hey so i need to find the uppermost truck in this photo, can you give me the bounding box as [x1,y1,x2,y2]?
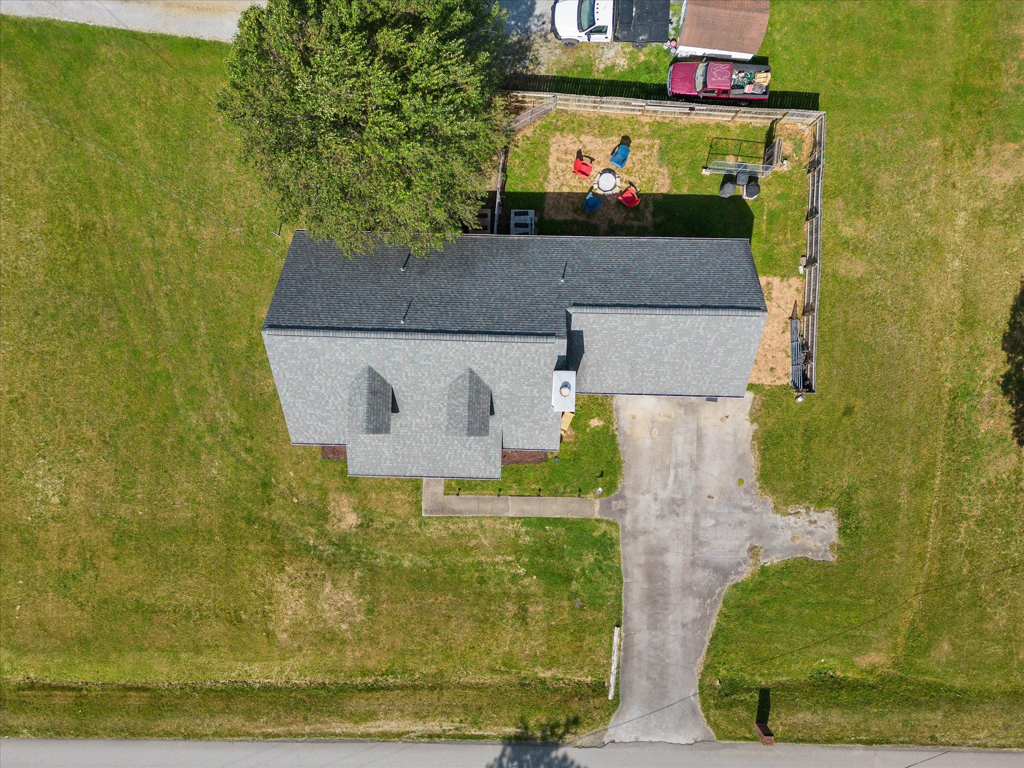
[548,0,670,51]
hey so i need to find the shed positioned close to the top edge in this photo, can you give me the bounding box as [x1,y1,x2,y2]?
[675,0,774,61]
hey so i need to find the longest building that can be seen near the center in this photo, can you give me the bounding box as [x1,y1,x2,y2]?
[263,228,768,481]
